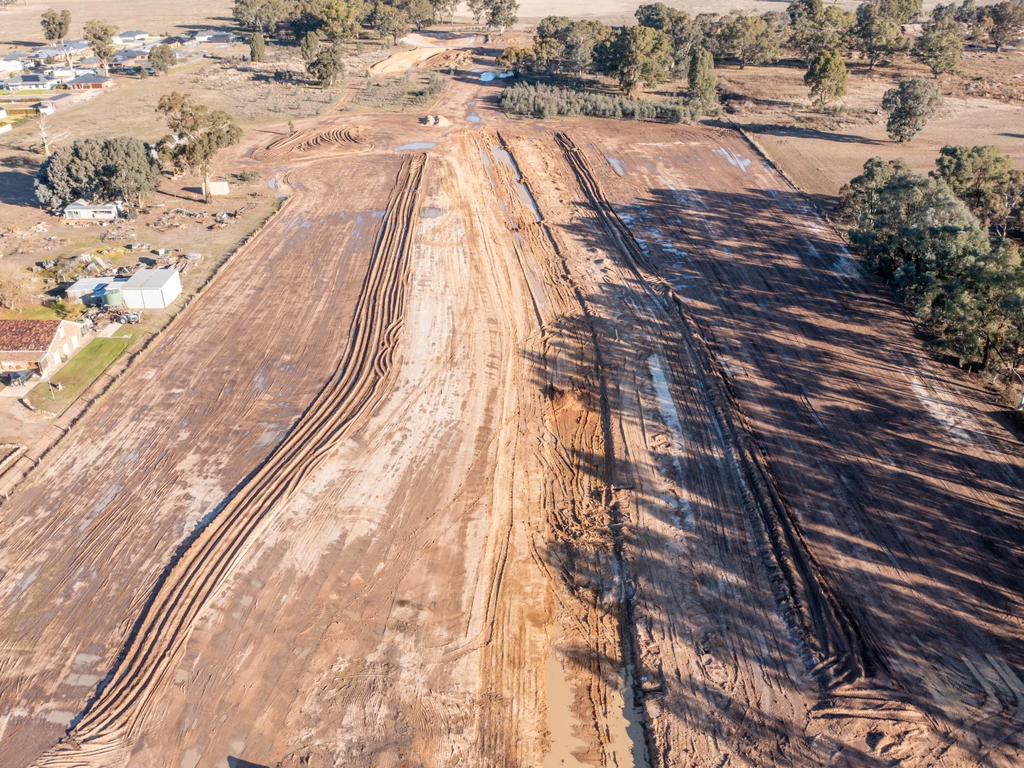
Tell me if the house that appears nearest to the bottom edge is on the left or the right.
left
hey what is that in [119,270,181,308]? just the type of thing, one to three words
shed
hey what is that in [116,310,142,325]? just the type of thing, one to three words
work vehicle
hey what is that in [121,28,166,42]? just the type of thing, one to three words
house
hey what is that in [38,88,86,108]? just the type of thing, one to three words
building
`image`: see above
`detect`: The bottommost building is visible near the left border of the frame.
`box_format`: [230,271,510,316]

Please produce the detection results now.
[0,317,91,379]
